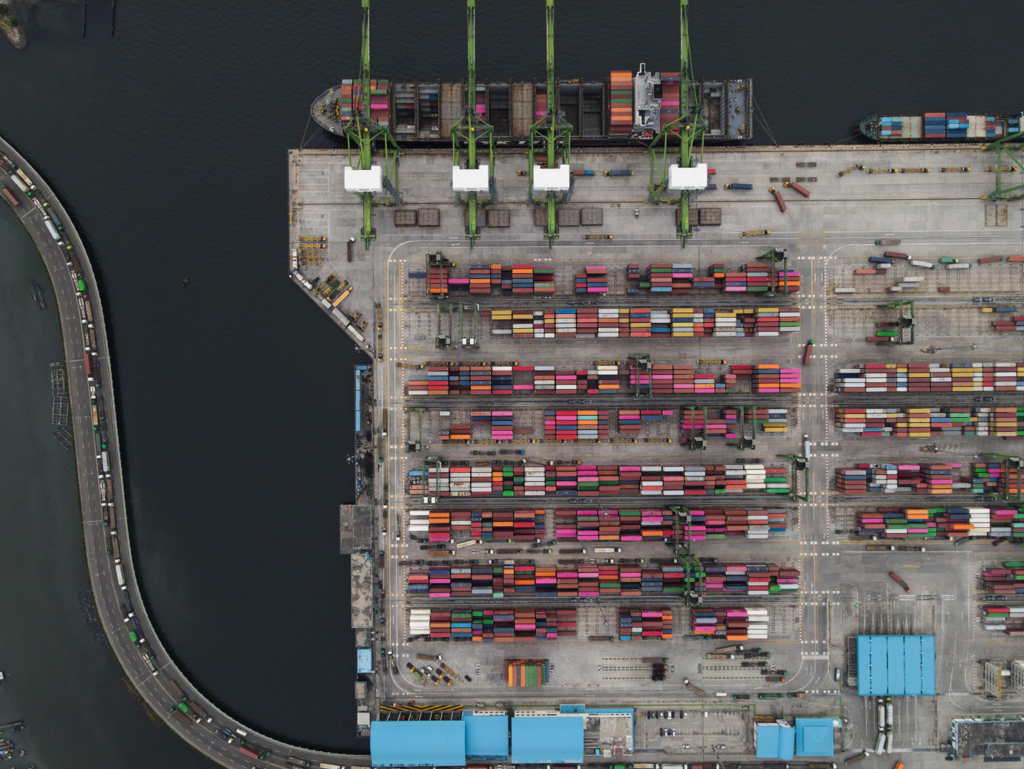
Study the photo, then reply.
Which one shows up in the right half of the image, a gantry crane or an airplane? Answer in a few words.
gantry crane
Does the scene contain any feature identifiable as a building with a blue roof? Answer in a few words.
Yes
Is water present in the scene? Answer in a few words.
Yes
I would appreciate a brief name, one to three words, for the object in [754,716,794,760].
building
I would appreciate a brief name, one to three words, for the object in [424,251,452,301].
container crane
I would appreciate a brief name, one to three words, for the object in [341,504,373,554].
building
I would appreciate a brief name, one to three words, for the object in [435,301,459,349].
container crane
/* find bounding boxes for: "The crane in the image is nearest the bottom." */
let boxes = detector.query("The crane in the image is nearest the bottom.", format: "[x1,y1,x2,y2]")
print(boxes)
[673,553,704,607]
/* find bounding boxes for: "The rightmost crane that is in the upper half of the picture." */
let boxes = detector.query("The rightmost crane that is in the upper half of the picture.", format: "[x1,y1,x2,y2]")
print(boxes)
[976,132,1024,205]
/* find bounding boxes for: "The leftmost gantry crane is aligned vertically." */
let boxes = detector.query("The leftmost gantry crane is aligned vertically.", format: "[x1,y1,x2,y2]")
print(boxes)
[344,0,407,251]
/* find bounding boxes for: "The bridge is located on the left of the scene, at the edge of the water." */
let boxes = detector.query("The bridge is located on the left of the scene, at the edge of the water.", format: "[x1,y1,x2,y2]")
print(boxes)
[0,137,429,769]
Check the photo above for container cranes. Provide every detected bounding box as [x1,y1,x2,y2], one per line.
[724,403,758,450]
[677,403,708,451]
[662,502,692,554]
[435,301,459,349]
[976,132,1024,205]
[406,405,431,453]
[753,249,789,299]
[519,0,576,251]
[875,298,917,346]
[447,0,503,251]
[774,453,810,502]
[641,0,707,251]
[421,456,448,506]
[458,301,484,349]
[424,251,452,301]
[977,452,1024,501]
[673,553,704,607]
[625,354,652,400]
[344,0,407,251]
